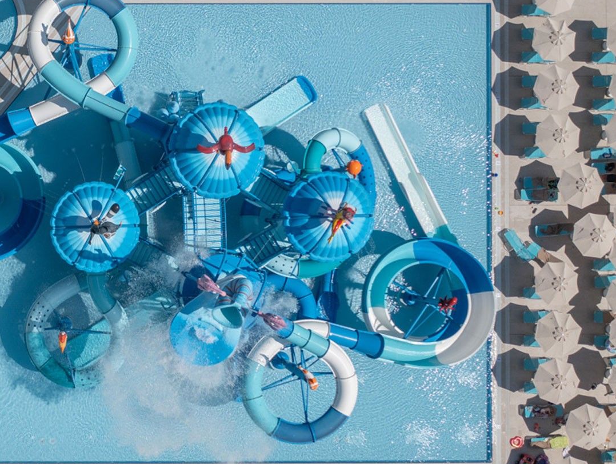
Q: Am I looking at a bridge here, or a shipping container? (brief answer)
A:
bridge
